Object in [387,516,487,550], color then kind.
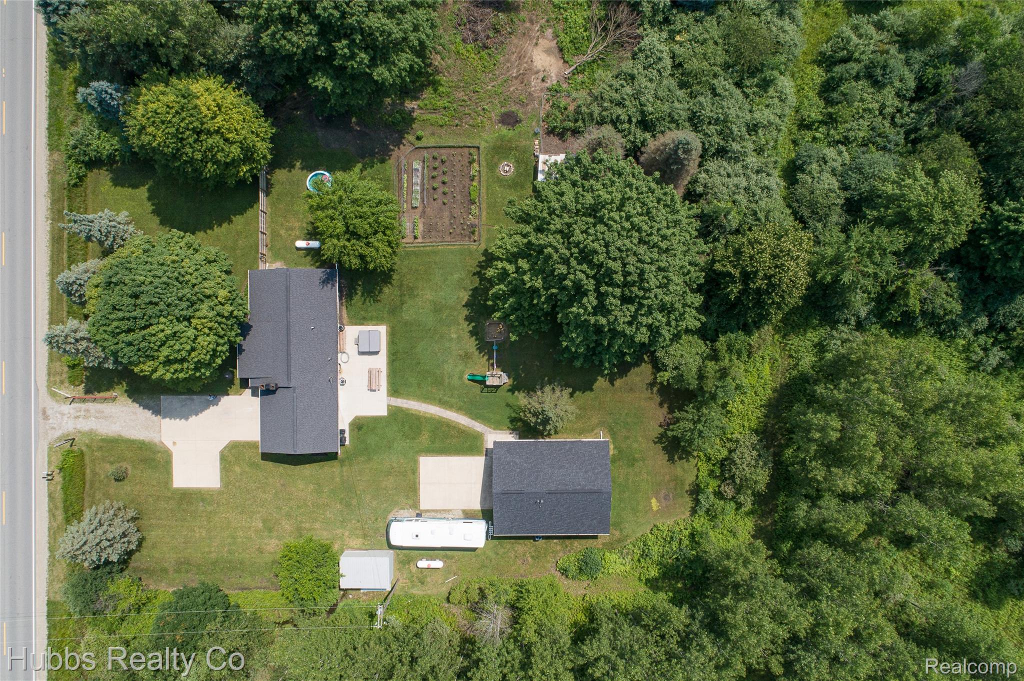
white camper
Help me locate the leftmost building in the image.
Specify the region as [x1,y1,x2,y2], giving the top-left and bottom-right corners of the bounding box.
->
[238,266,345,455]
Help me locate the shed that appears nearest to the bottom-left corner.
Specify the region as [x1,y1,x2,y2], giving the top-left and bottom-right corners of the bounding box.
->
[340,551,393,591]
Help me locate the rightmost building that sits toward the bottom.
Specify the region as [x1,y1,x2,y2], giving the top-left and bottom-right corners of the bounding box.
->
[493,429,613,536]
